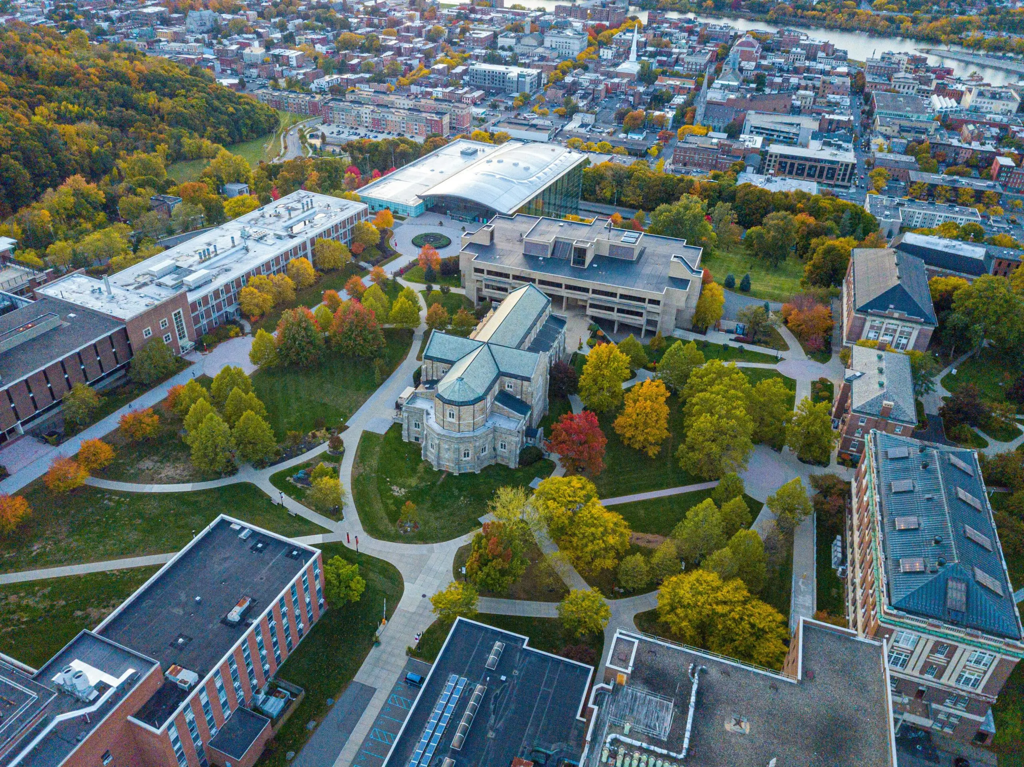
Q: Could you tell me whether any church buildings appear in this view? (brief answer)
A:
Yes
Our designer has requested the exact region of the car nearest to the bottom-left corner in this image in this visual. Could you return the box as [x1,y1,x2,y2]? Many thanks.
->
[400,671,427,689]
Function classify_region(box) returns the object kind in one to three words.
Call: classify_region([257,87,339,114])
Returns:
building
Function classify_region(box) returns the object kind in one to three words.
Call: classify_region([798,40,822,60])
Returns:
house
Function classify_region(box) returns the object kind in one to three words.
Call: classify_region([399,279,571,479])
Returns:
church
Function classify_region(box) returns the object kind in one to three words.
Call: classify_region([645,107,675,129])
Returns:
house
